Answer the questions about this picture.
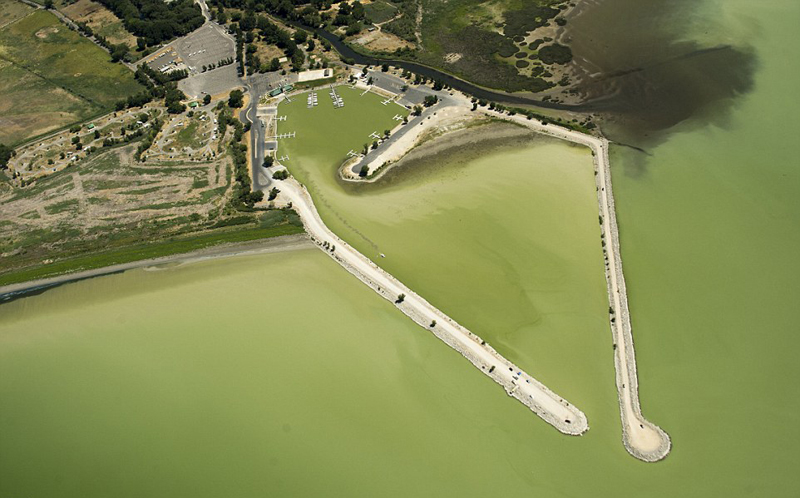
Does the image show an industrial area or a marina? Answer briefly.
marina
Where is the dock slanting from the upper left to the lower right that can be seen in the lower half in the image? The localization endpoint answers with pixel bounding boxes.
[270,177,589,436]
